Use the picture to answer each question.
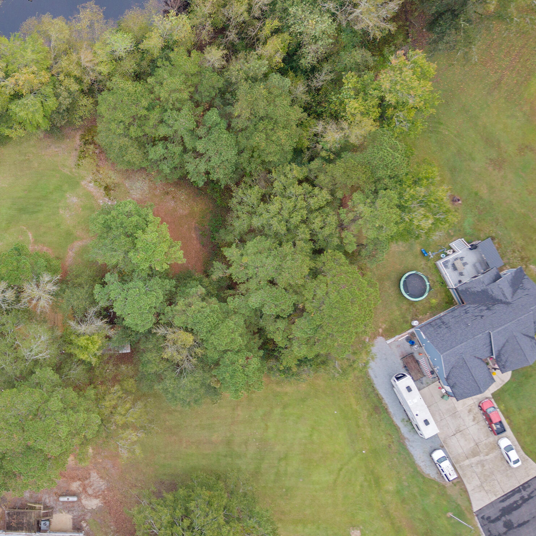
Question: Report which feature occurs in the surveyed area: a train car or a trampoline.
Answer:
trampoline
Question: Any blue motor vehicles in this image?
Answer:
No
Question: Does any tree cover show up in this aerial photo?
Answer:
Yes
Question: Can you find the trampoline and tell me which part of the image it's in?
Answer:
right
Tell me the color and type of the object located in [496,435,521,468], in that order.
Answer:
white car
